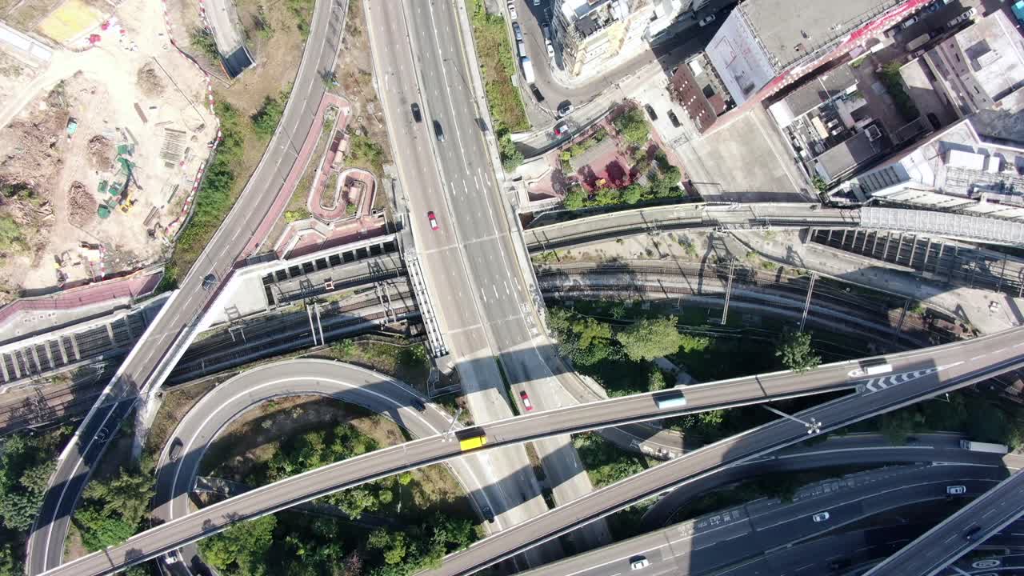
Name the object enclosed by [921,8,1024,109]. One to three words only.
building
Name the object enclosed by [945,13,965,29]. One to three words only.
car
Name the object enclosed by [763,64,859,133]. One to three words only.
building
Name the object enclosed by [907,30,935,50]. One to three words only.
vehicle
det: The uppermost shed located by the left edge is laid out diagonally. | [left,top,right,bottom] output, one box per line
[0,19,58,67]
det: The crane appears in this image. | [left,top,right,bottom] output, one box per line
[109,153,142,199]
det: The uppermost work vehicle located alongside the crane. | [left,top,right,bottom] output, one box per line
[113,184,140,214]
